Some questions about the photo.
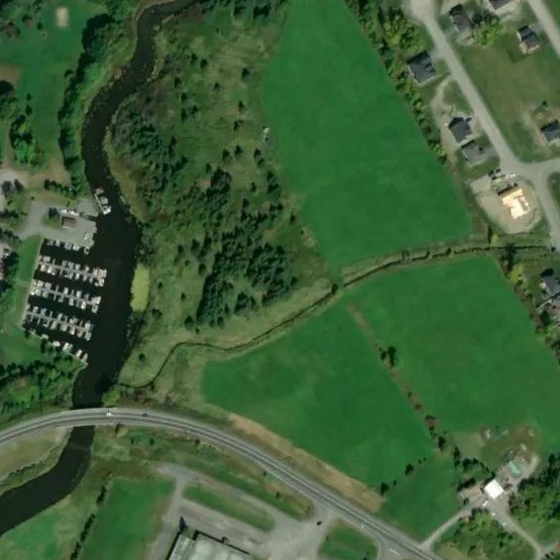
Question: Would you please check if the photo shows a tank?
No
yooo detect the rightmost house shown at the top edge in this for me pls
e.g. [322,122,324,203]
[517,24,539,50]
